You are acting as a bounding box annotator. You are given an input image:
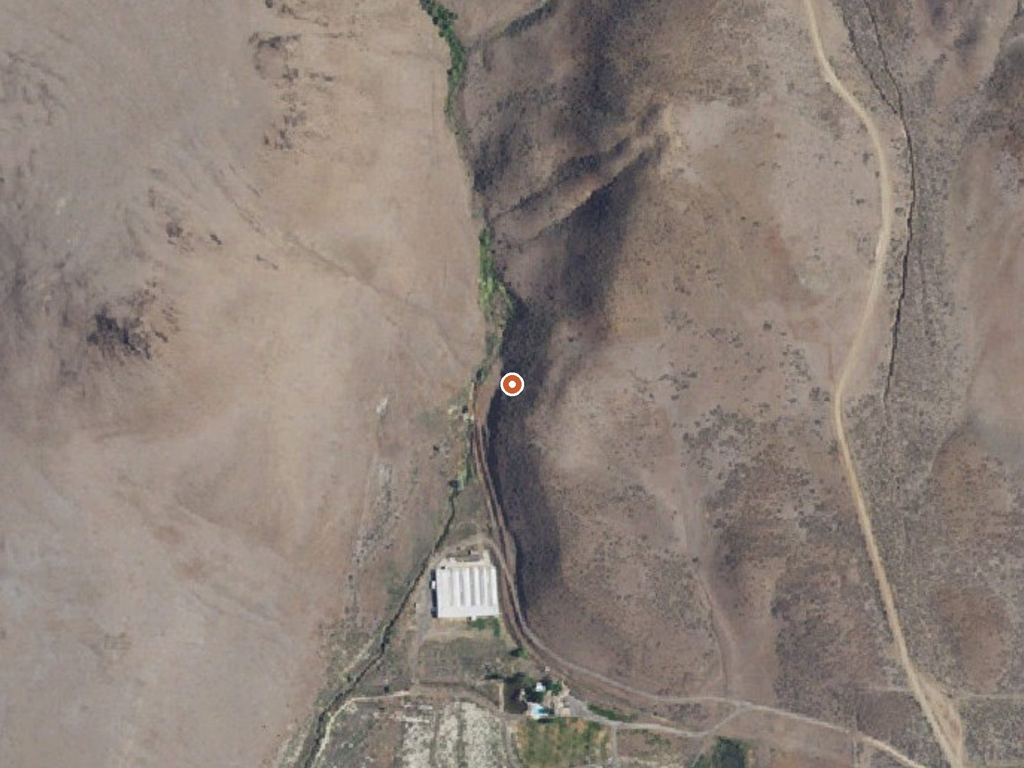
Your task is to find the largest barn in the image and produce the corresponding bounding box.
[432,564,500,620]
